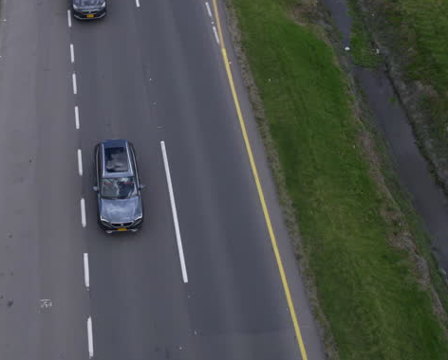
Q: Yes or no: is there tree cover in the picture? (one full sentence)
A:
No, tree cover can't be seen anywhere here.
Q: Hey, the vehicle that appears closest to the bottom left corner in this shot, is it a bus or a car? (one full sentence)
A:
From above, the vehicle that appears closest to the bottom left corner can be identified as a car.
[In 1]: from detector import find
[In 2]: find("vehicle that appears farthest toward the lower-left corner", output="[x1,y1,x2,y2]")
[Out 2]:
[91,137,148,230]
